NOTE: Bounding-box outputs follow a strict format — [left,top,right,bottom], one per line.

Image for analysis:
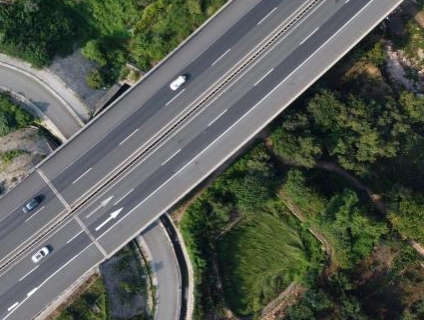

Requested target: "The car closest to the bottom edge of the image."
[30,245,49,263]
